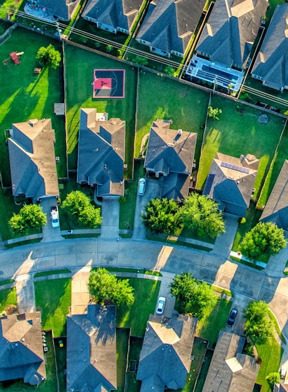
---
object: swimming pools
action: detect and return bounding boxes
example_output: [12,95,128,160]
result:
[186,53,247,95]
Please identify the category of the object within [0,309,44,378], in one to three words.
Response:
house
